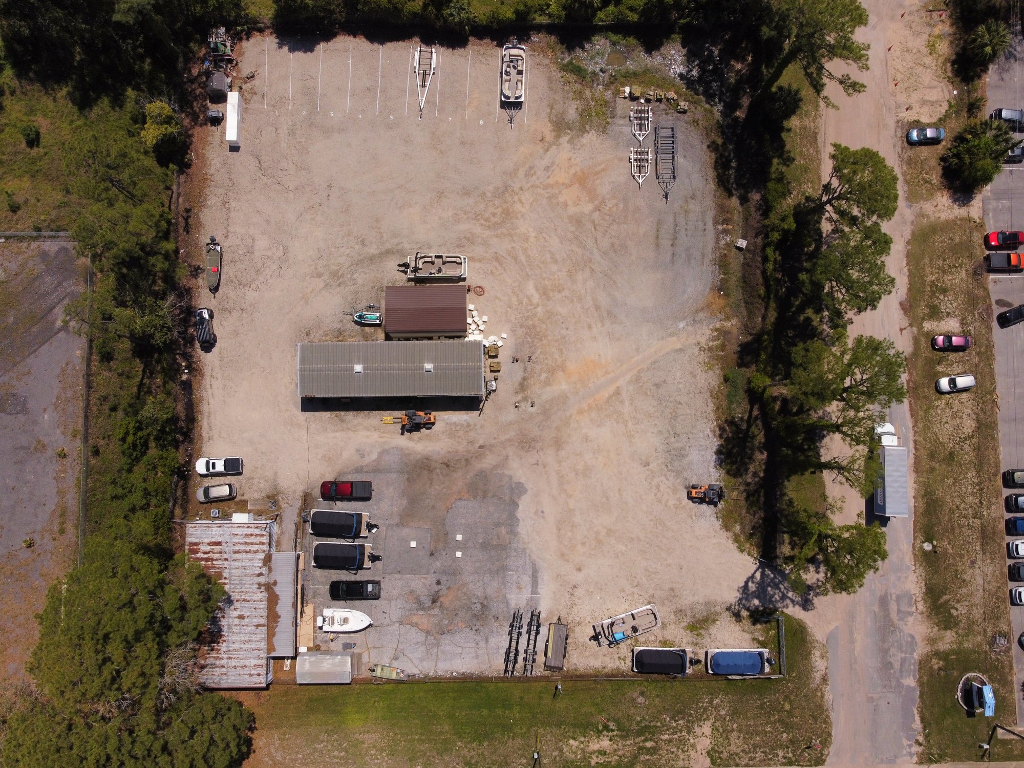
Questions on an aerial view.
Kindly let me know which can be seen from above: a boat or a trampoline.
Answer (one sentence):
The one in the frame is a boat.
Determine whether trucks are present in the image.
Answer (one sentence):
Yes, the picture does show a truck.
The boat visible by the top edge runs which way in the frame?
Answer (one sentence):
The boat visible by the top edge has been laid out up and down relative to the frame.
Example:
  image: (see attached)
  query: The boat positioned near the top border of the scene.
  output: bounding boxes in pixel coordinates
[502,38,525,105]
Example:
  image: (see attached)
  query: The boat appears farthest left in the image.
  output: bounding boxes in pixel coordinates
[207,235,222,291]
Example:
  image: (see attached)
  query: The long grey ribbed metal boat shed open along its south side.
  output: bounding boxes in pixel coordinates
[296,341,484,399]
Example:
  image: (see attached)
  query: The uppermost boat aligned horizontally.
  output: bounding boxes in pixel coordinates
[397,255,467,278]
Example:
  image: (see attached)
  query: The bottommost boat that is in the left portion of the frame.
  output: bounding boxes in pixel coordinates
[368,661,410,681]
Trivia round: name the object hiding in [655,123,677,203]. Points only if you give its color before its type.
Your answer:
gray trailer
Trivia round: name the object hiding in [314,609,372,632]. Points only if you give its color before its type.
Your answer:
white boat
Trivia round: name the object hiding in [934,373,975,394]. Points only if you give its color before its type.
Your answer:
white car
